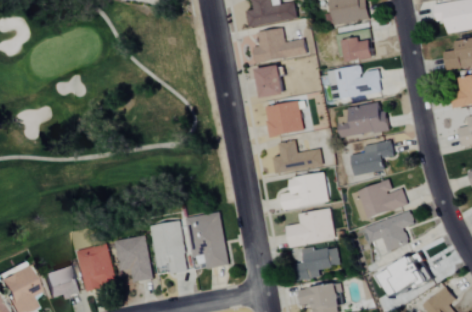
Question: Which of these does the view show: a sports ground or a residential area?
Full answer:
The area seen from above is a residential area.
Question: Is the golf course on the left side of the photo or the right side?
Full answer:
You can find the golf course on the left side of the picture.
